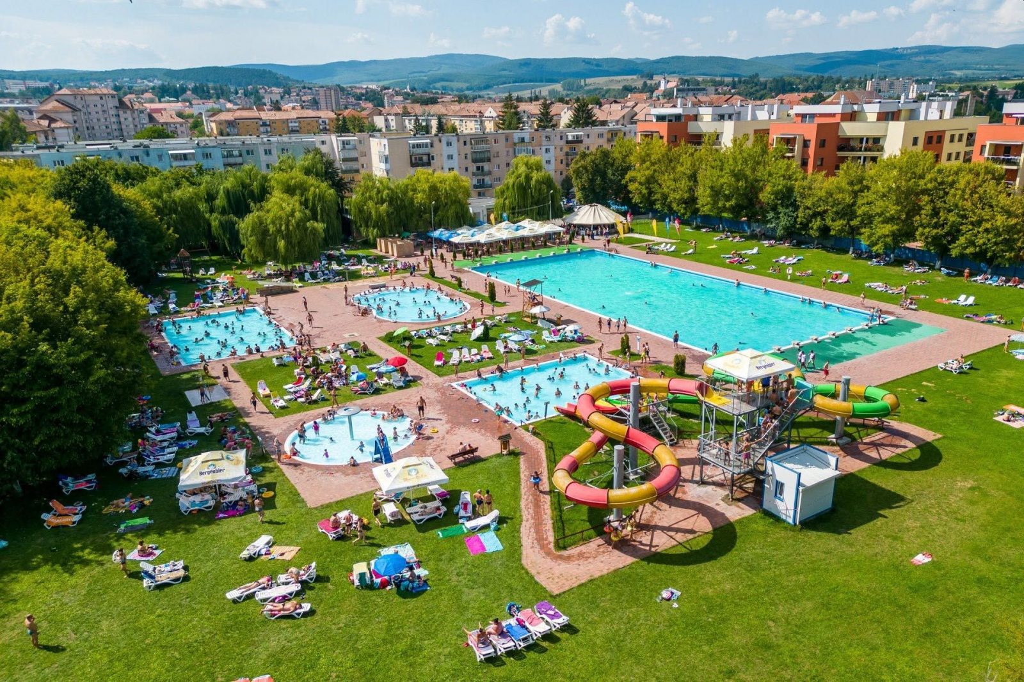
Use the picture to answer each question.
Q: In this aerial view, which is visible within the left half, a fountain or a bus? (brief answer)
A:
fountain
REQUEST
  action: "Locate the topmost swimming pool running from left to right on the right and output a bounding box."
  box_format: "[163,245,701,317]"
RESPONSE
[469,250,884,355]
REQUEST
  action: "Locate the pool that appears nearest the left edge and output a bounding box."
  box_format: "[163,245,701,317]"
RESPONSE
[161,307,295,366]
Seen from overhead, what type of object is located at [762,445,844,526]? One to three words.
shed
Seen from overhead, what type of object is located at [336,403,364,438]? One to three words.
fountain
